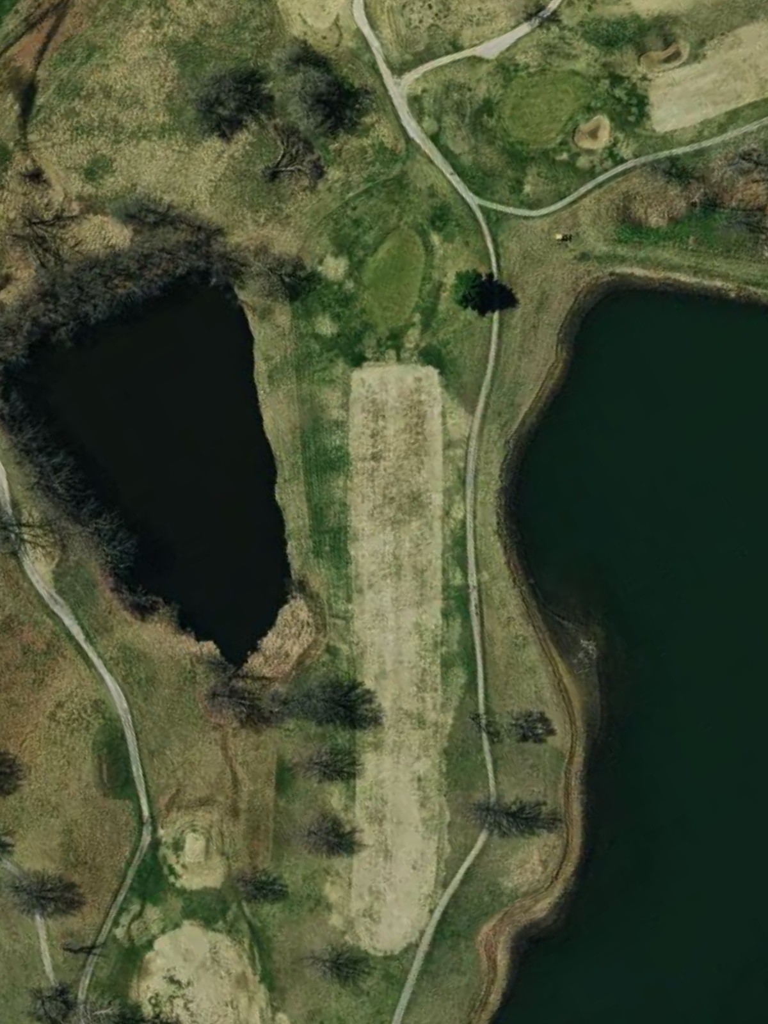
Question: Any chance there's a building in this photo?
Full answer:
No, this view has no building in it.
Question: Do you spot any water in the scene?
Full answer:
Yes, some water is visible.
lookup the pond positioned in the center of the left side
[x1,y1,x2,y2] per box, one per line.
[2,274,291,667]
